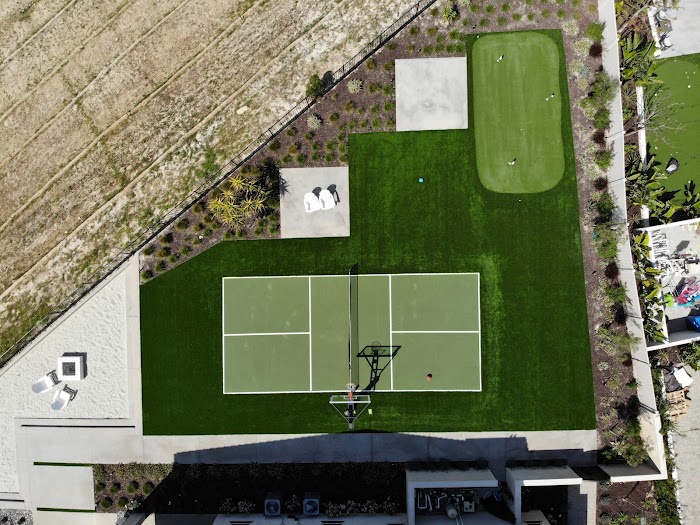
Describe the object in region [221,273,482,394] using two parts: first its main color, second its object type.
green sports court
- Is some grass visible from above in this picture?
Yes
